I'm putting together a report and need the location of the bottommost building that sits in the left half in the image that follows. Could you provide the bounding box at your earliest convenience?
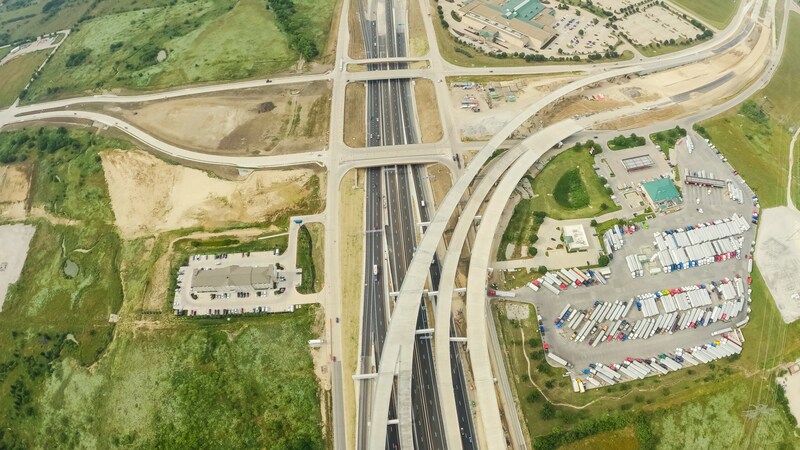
[191,262,277,297]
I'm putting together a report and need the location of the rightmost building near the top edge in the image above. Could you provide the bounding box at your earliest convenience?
[459,0,559,56]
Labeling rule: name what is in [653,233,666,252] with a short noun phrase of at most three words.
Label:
vehicle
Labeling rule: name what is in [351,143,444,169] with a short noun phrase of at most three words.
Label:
overpass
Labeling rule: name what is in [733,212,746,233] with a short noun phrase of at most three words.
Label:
vehicle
